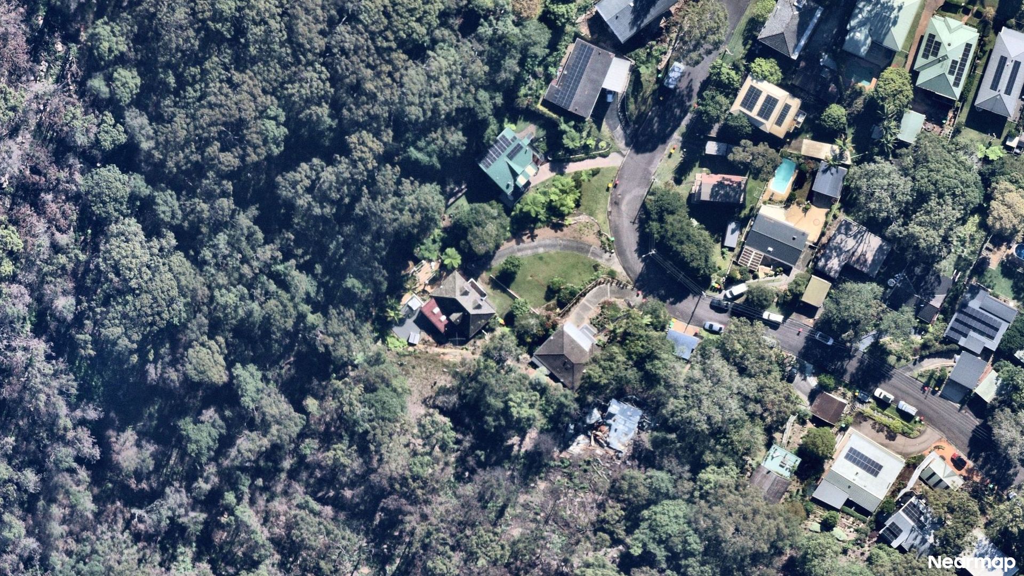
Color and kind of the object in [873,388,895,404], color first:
white vehicle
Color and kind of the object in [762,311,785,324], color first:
white vehicle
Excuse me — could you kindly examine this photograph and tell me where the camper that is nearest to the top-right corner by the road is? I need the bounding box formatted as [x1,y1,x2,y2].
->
[665,60,683,88]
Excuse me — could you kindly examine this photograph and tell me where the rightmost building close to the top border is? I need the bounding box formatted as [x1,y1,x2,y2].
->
[975,28,1024,118]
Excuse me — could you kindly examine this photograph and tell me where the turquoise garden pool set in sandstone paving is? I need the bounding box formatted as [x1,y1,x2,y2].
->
[770,155,798,195]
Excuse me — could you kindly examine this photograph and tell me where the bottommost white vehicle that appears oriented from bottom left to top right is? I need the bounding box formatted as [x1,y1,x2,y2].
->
[726,283,748,299]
